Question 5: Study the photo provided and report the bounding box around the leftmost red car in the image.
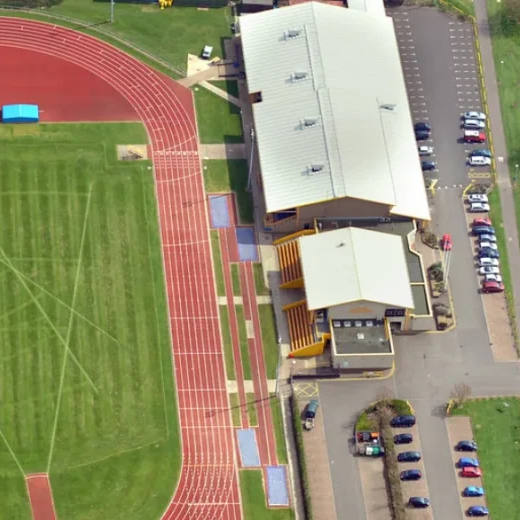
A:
[441,234,454,250]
